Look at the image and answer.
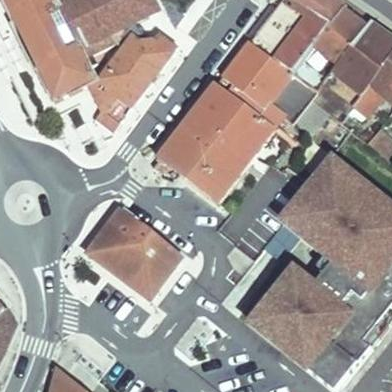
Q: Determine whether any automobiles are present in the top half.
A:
Yes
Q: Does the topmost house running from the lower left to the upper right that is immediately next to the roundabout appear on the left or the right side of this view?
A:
left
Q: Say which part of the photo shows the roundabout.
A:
left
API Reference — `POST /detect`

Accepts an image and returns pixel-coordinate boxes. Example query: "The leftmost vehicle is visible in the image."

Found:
[16,354,28,377]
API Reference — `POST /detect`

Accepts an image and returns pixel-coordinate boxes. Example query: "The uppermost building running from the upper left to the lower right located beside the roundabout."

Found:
[3,0,99,102]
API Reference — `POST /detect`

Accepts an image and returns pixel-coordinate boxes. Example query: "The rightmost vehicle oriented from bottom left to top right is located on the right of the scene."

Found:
[270,188,288,208]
